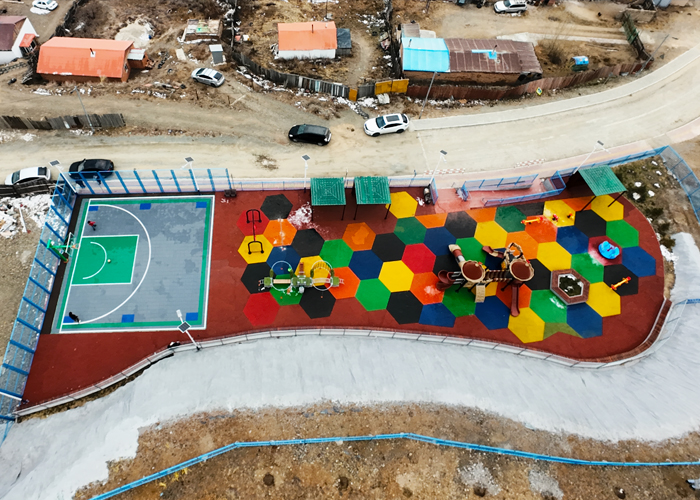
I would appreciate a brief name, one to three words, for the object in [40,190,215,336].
basketball court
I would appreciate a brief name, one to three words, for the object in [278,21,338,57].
house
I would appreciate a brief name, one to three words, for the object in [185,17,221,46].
shed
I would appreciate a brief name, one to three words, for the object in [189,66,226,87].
car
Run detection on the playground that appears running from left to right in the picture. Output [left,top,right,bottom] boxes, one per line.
[21,173,671,409]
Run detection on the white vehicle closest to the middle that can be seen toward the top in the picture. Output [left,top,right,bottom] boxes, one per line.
[364,113,409,137]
